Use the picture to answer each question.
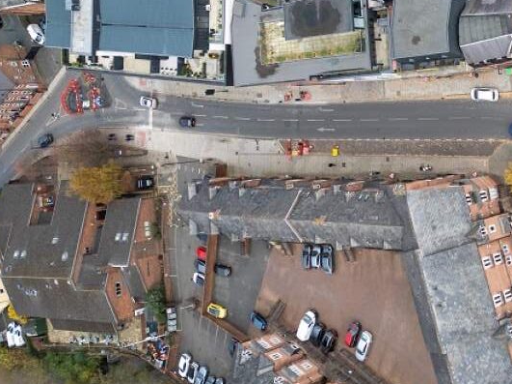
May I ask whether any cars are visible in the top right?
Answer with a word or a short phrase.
Yes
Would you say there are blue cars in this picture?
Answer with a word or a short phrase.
Yes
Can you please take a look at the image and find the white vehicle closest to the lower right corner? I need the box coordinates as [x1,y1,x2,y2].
[354,332,374,362]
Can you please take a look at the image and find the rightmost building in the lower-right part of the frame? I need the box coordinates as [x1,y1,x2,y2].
[397,176,512,384]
